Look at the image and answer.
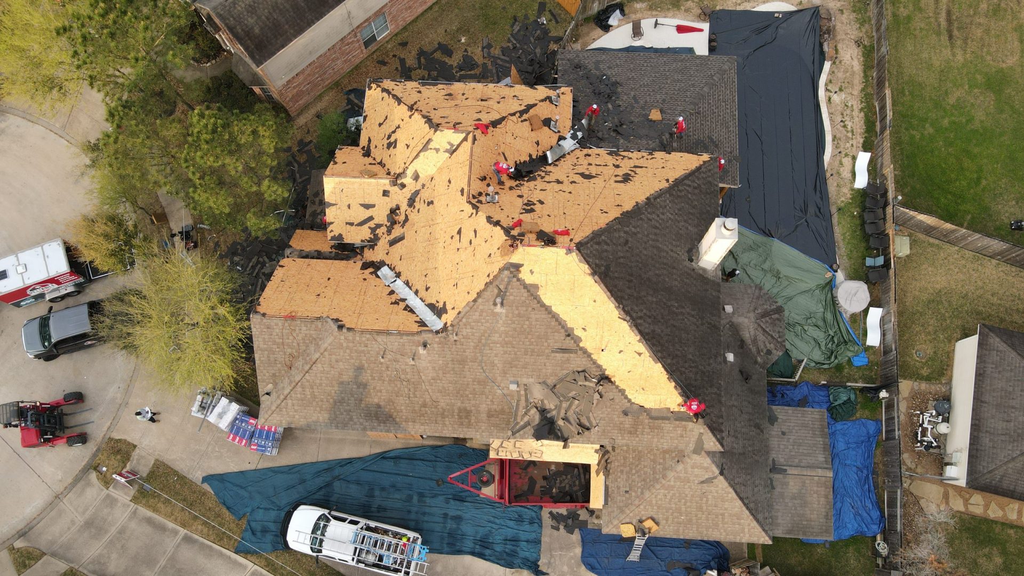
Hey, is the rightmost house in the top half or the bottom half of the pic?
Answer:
bottom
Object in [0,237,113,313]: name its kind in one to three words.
trailer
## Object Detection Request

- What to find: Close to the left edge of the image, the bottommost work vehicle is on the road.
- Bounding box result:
[0,389,95,448]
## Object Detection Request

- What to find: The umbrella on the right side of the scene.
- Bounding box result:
[654,19,704,32]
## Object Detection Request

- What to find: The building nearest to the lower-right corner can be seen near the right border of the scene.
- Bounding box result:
[943,318,1024,504]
